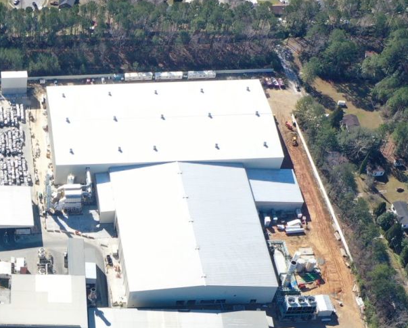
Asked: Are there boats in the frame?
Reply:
No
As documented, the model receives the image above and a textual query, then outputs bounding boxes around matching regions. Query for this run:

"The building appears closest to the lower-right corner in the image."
[314,294,333,319]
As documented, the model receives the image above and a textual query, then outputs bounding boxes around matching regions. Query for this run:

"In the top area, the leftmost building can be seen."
[0,70,27,95]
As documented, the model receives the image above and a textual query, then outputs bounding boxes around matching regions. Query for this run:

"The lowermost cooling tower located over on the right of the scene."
[277,294,317,316]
